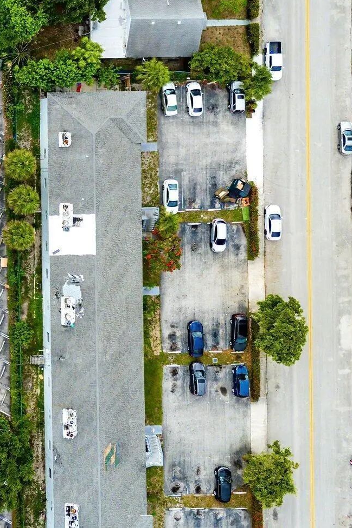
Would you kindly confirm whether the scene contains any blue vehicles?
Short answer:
Yes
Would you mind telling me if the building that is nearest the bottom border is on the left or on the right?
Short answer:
left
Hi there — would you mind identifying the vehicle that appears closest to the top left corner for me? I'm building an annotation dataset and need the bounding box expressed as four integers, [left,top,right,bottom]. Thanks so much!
[160,81,178,117]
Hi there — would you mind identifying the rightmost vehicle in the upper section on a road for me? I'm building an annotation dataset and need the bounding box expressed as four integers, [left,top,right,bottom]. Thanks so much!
[335,121,352,156]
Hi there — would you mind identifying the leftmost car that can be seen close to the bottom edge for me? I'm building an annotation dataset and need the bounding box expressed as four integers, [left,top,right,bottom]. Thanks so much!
[212,465,232,502]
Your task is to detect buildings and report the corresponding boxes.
[37,90,163,528]
[84,0,212,59]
